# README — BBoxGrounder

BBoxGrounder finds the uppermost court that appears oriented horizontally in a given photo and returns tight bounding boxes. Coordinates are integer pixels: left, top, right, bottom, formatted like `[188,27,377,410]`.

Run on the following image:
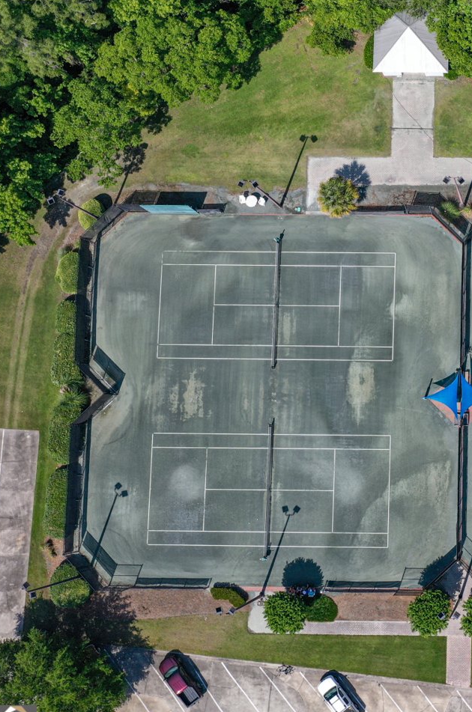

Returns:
[90,213,465,398]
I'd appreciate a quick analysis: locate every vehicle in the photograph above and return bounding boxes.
[159,653,205,711]
[316,671,361,712]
